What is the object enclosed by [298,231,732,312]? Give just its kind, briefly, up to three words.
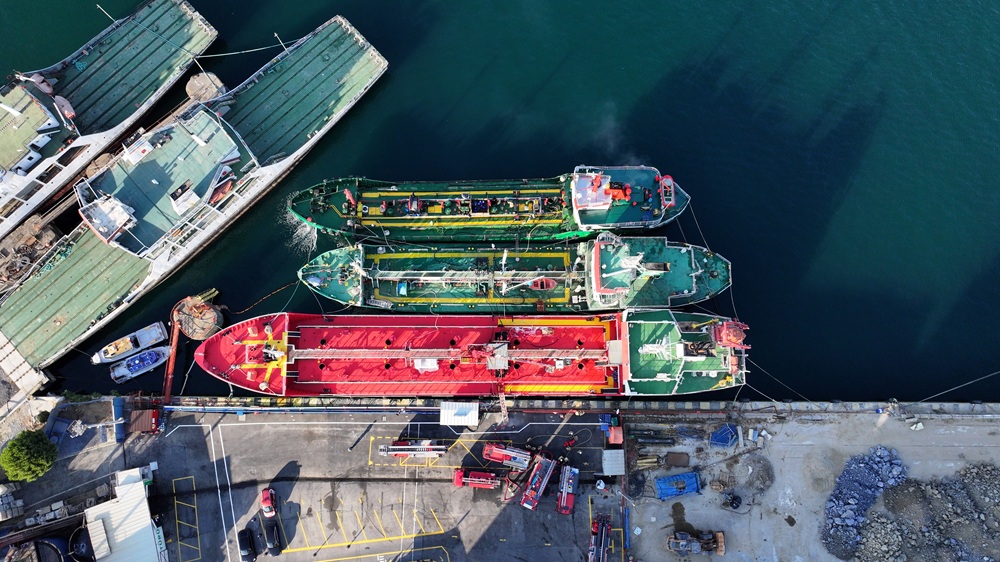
ship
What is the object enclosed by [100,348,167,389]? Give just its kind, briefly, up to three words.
boat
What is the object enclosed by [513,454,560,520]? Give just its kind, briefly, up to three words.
truck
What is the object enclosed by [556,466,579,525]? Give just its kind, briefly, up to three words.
truck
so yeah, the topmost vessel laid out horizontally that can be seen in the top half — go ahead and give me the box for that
[288,160,691,262]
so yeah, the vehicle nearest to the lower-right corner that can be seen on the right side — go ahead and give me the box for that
[669,530,727,560]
